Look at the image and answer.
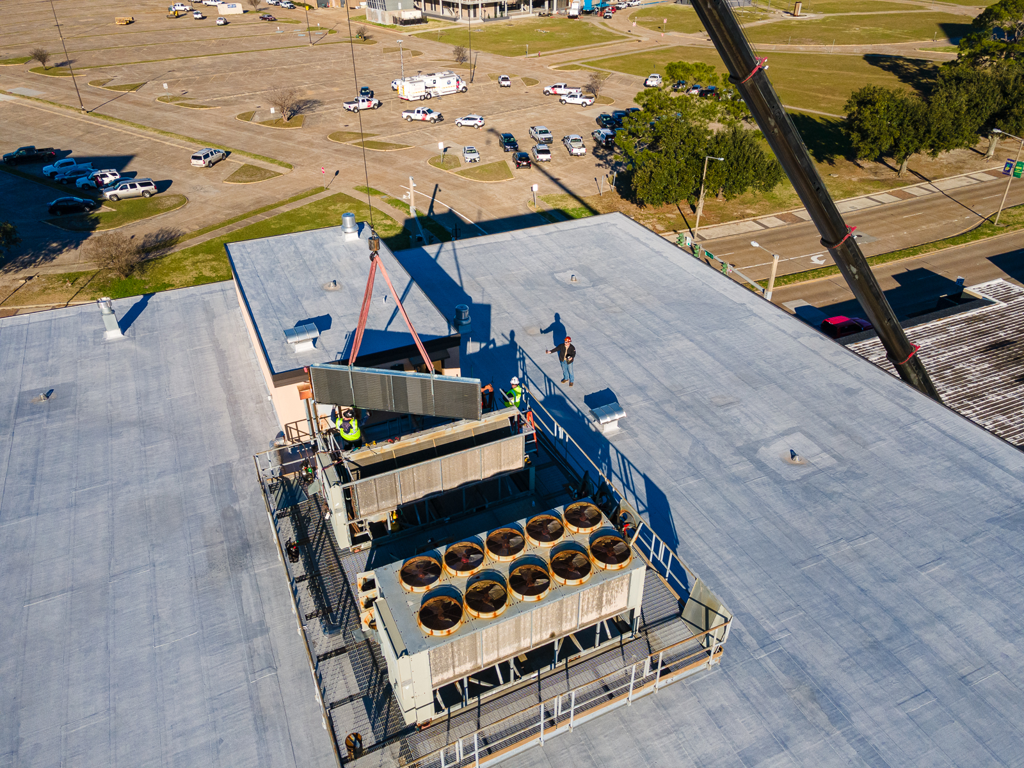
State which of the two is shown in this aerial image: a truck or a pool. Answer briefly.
truck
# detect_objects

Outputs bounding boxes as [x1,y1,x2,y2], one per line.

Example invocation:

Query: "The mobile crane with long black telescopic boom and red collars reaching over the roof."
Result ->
[681,0,953,406]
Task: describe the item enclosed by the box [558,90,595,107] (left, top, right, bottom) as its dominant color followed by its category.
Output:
white vehicle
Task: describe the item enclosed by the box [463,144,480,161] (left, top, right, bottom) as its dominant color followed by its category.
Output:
white car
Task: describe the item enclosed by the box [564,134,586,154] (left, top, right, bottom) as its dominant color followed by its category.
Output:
white vehicle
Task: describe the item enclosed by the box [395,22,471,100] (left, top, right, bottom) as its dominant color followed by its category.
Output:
white truck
